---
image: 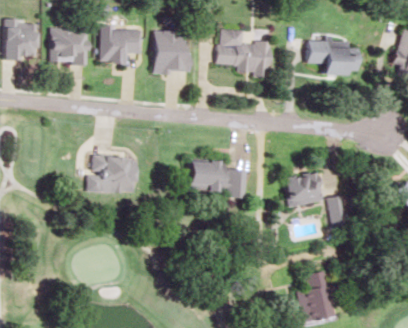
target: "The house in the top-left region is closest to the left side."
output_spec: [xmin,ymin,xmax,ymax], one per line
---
[4,18,40,60]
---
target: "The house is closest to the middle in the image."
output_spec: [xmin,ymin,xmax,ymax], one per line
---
[193,161,247,198]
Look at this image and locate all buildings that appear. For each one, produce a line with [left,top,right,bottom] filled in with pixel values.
[154,31,192,75]
[326,196,344,225]
[4,18,40,60]
[84,156,140,194]
[50,27,91,65]
[298,271,338,328]
[216,30,274,78]
[100,26,141,66]
[193,161,247,198]
[305,37,362,76]
[288,172,324,208]
[390,28,408,78]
